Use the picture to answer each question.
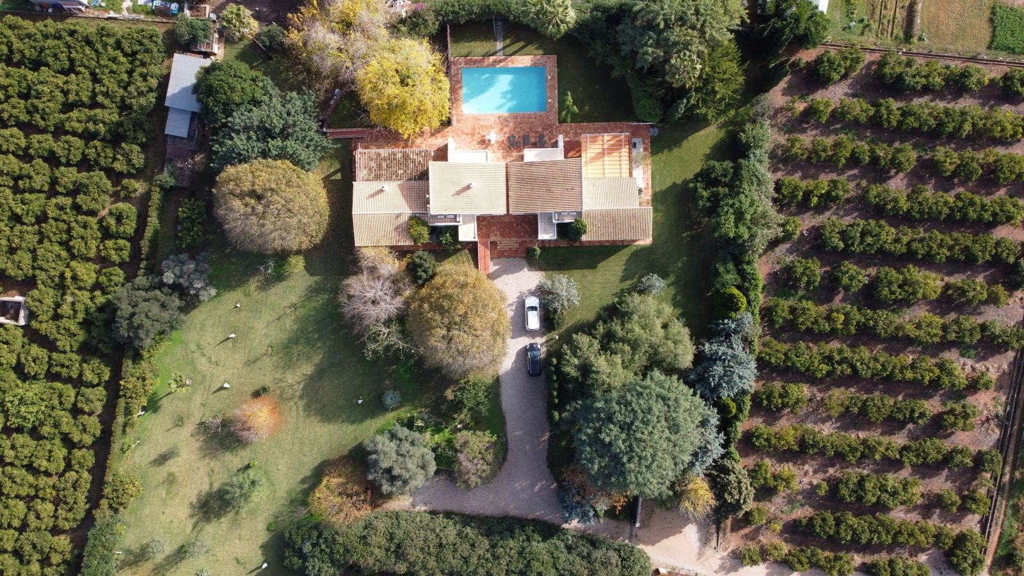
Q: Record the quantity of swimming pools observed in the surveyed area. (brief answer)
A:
1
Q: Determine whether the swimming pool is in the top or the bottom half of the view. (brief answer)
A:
top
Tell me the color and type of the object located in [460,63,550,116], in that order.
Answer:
blue swimming pool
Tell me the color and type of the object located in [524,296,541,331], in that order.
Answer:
white car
